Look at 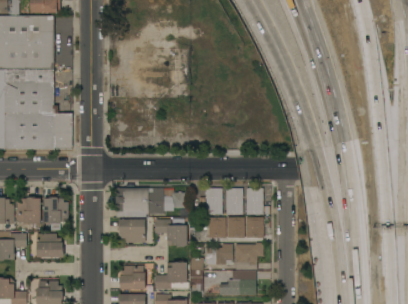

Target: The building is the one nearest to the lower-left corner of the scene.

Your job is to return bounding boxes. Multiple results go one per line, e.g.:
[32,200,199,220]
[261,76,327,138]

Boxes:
[0,278,28,304]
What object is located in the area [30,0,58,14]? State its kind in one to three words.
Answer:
house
